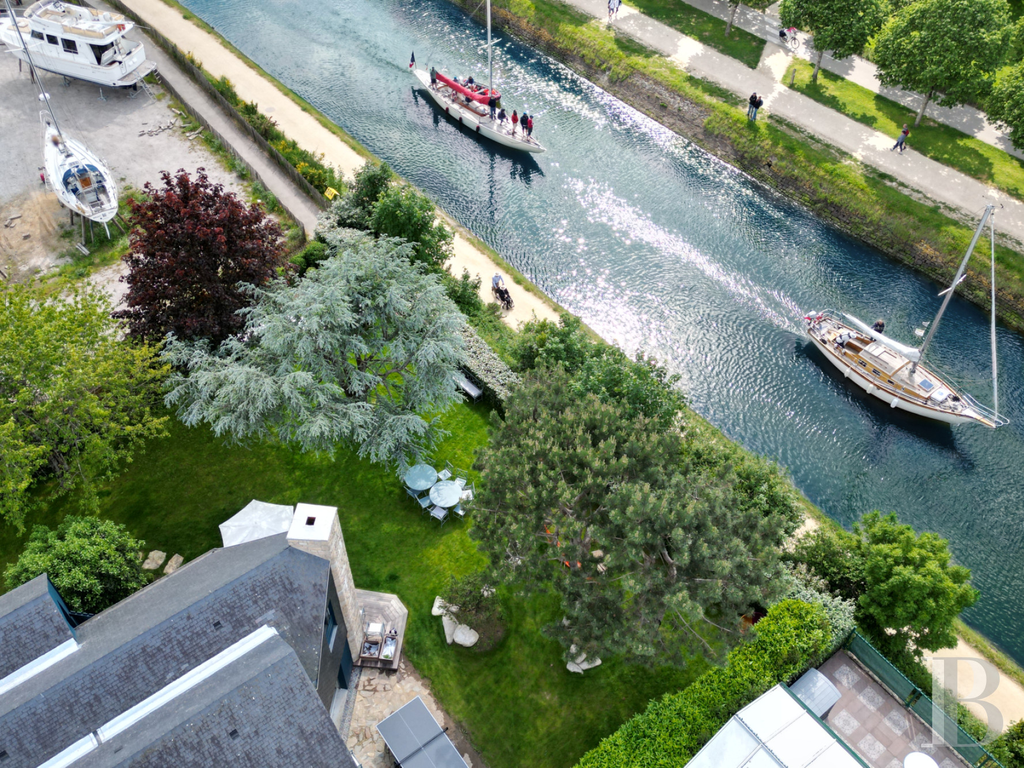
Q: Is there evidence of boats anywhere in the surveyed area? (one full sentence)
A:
Yes, the picture does show a boat.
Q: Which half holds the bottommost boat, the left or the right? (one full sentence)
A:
You can find the bottommost boat on the right side of the picture.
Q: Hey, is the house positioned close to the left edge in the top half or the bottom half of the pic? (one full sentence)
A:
You can find the house positioned close to the left edge in the bottom half.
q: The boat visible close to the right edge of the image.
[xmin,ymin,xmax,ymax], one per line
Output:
[805,194,1007,436]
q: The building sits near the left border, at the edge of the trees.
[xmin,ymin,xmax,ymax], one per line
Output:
[0,501,371,768]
